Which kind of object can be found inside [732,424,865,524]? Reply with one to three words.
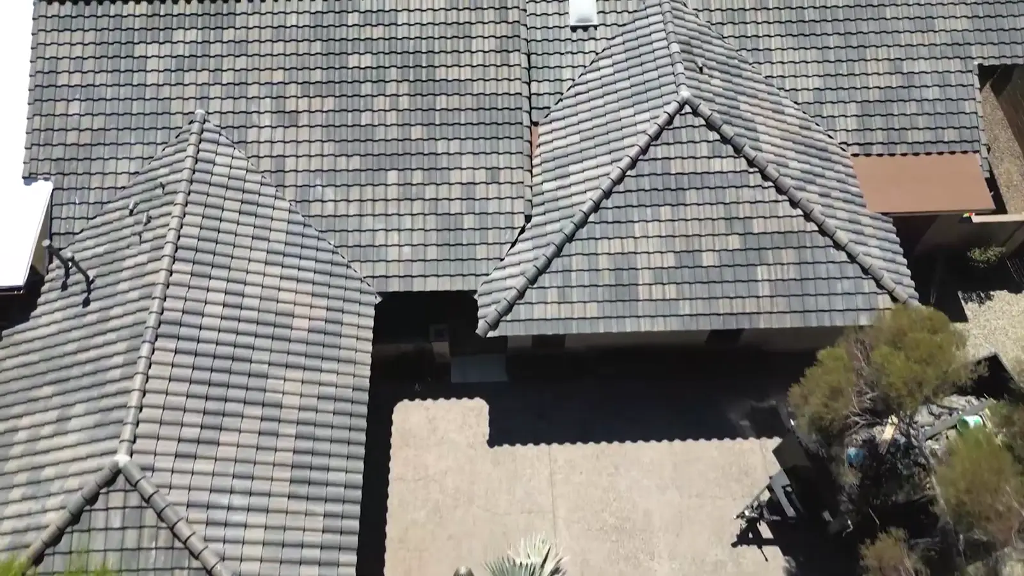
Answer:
trailer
